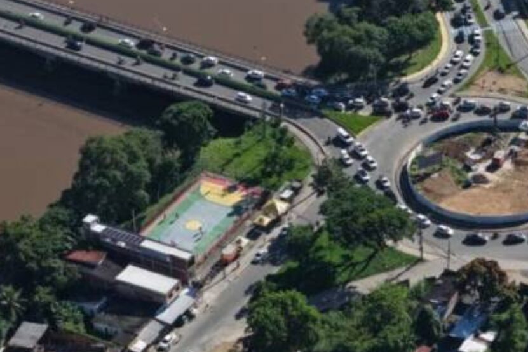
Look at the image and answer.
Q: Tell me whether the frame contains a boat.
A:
No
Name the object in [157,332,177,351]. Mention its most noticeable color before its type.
white vehicle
